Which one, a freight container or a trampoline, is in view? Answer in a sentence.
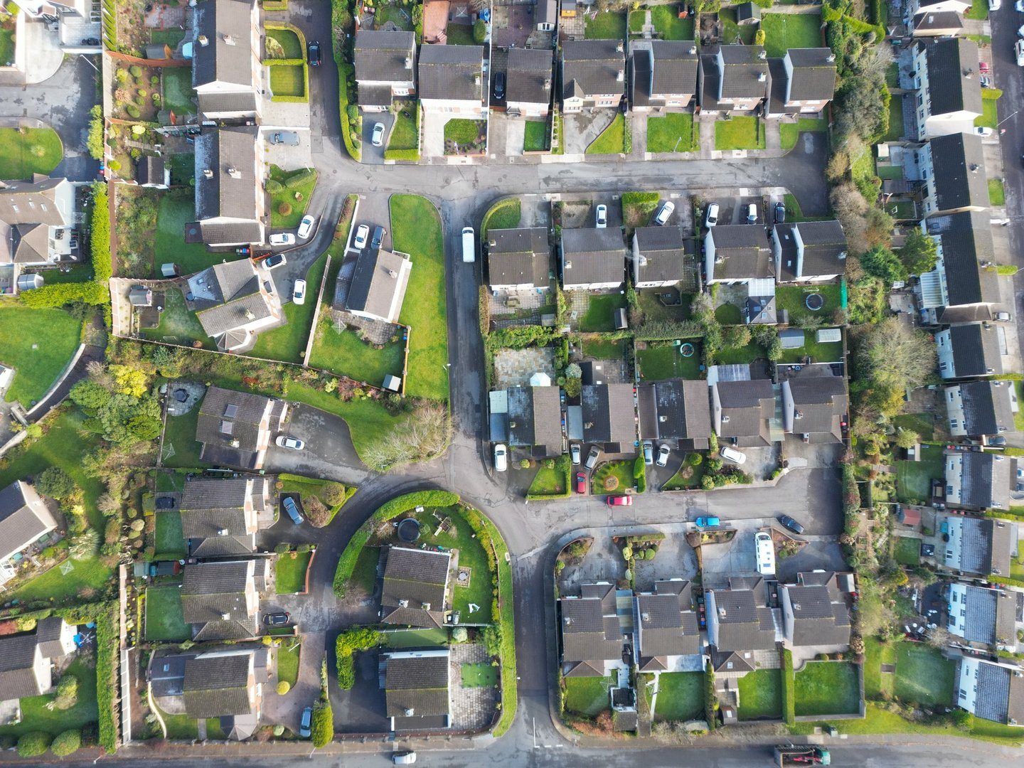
Visible in the photo is a trampoline.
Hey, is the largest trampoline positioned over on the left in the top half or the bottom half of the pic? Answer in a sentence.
You can find the largest trampoline positioned over on the left in the bottom half.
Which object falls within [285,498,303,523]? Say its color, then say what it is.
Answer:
blue car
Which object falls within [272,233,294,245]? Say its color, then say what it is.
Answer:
white vehicle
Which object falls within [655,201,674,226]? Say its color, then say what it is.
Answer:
white car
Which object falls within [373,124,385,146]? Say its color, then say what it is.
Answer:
white vehicle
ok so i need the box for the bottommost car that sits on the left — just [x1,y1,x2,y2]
[393,750,415,764]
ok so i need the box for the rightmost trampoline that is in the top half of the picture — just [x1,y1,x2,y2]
[804,292,827,311]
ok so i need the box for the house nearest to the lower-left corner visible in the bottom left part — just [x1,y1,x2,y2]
[0,612,78,701]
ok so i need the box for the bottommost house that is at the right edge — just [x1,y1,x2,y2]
[960,654,1024,729]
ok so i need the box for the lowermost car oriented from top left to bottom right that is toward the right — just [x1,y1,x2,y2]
[780,514,804,535]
